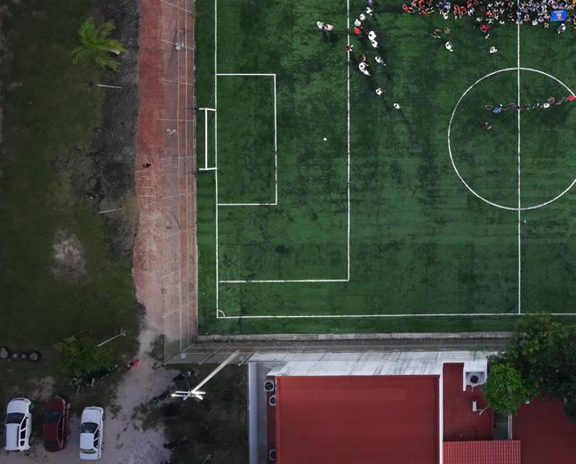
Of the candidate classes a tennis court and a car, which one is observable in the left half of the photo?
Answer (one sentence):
What appears in the left half of the photo is a car.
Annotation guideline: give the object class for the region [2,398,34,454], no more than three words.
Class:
car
